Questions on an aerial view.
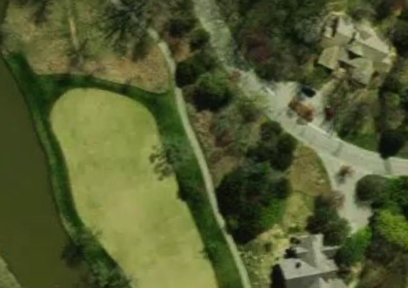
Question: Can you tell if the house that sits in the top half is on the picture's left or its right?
right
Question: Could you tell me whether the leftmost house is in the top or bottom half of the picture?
bottom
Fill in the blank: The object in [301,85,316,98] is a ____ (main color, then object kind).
black vehicle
